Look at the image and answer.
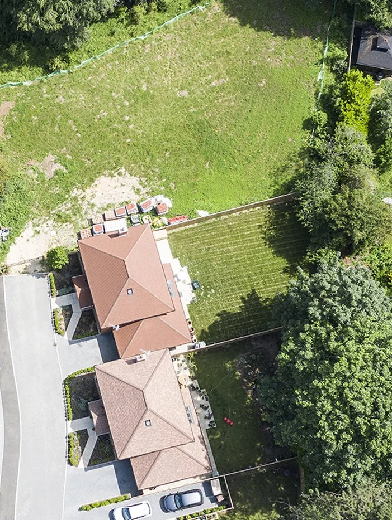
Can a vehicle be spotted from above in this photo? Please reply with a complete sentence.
Yes, the photo shows a vehicle.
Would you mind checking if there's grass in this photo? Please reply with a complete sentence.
Yes, some grass is visible.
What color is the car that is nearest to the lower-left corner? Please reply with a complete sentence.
From above, the car that is nearest to the lower-left corner appears white.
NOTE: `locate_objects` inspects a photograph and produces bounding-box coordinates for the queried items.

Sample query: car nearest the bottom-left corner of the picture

[111,499,153,520]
